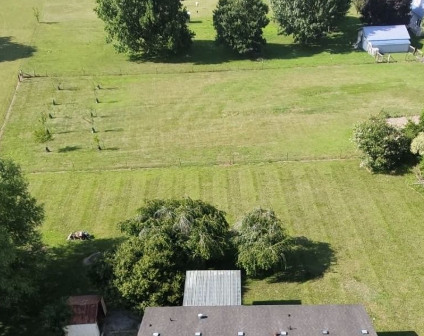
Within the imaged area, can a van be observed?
No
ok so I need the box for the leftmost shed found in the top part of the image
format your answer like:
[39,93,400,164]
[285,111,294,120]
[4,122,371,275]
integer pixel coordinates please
[364,19,417,52]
